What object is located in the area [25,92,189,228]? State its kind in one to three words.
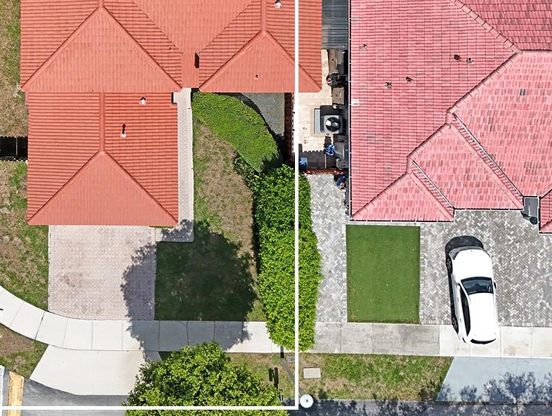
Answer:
building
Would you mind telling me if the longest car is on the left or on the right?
right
